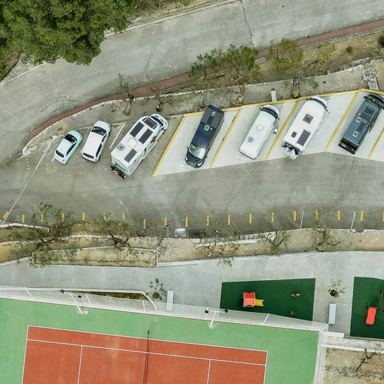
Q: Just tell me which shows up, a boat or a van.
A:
van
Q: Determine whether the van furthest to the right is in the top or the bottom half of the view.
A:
top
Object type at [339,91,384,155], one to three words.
van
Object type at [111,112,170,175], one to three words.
camper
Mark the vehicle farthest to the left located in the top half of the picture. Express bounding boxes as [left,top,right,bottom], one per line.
[54,129,83,165]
